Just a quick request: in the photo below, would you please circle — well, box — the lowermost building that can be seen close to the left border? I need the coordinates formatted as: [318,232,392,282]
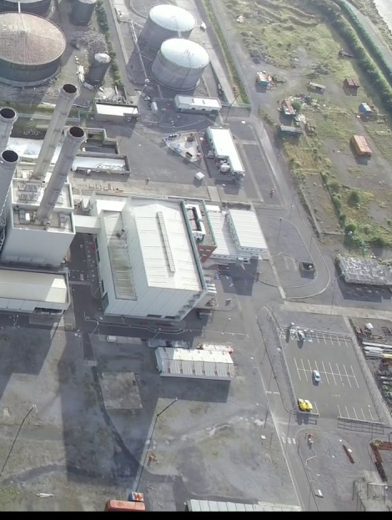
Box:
[0,269,70,314]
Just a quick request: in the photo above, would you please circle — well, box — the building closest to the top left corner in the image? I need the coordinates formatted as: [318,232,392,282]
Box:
[91,102,139,125]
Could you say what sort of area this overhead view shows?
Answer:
industrial area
